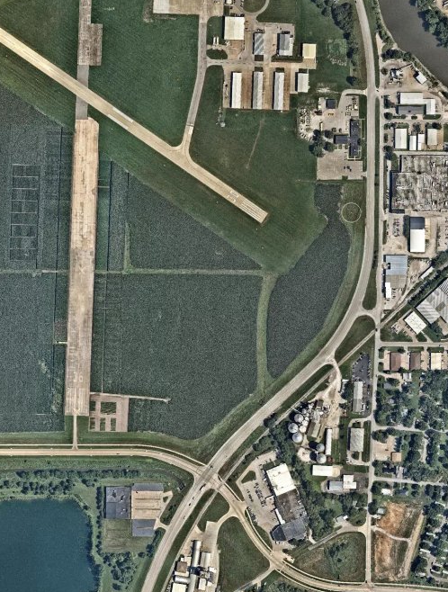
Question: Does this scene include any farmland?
Yes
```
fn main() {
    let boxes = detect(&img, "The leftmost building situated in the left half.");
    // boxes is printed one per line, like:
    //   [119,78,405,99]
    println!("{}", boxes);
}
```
[105,486,131,518]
